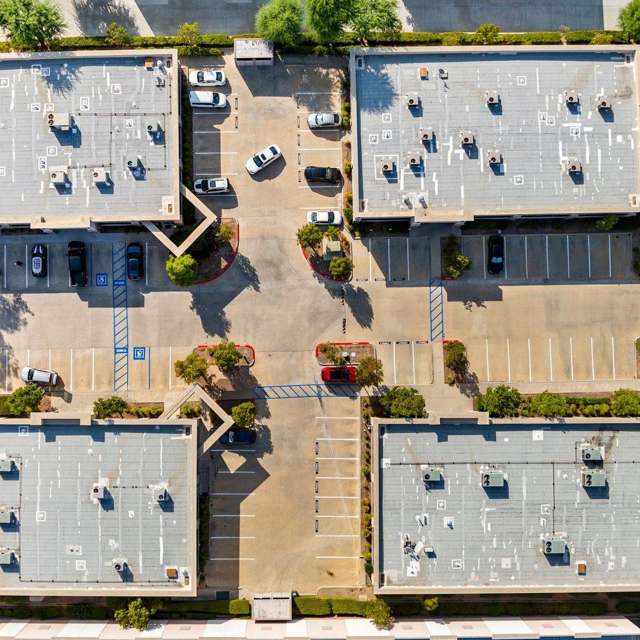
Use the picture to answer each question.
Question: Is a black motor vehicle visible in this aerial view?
Yes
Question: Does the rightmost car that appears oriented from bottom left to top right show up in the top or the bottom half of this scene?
top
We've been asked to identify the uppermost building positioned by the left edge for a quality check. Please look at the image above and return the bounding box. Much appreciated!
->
[0,49,217,256]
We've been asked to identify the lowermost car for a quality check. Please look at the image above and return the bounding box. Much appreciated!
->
[219,428,255,445]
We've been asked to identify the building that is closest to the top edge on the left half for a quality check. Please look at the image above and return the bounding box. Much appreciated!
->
[234,38,273,67]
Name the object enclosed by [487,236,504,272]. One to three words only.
car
